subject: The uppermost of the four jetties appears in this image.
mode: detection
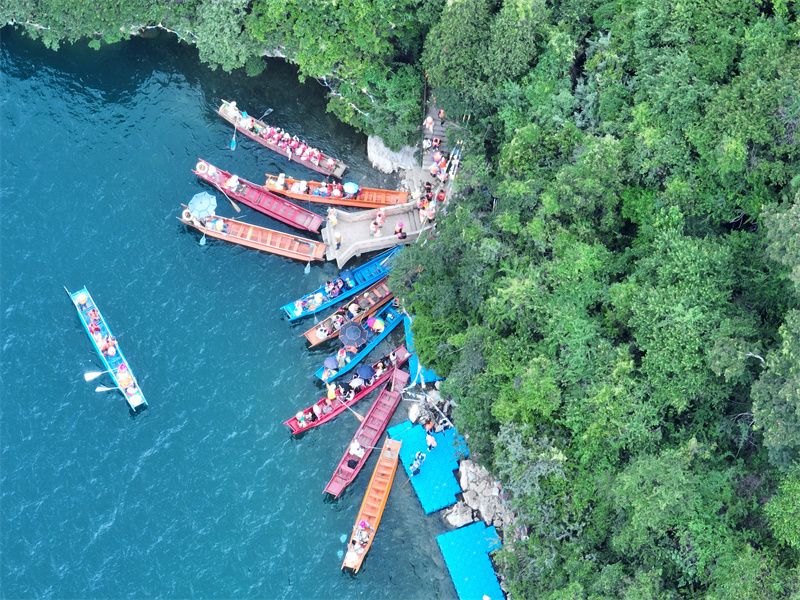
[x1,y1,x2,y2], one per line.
[321,198,440,272]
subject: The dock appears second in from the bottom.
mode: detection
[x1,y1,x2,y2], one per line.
[390,417,470,515]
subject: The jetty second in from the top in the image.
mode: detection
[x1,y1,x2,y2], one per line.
[399,313,438,390]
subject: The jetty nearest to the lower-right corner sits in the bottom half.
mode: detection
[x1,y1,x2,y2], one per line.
[436,519,506,600]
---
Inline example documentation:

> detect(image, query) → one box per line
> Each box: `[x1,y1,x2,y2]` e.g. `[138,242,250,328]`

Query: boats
[188,156,325,231]
[211,97,347,177]
[311,305,406,386]
[66,282,148,410]
[259,173,409,205]
[172,204,327,259]
[298,280,400,348]
[277,248,405,323]
[319,366,411,504]
[339,434,405,579]
[280,342,413,434]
